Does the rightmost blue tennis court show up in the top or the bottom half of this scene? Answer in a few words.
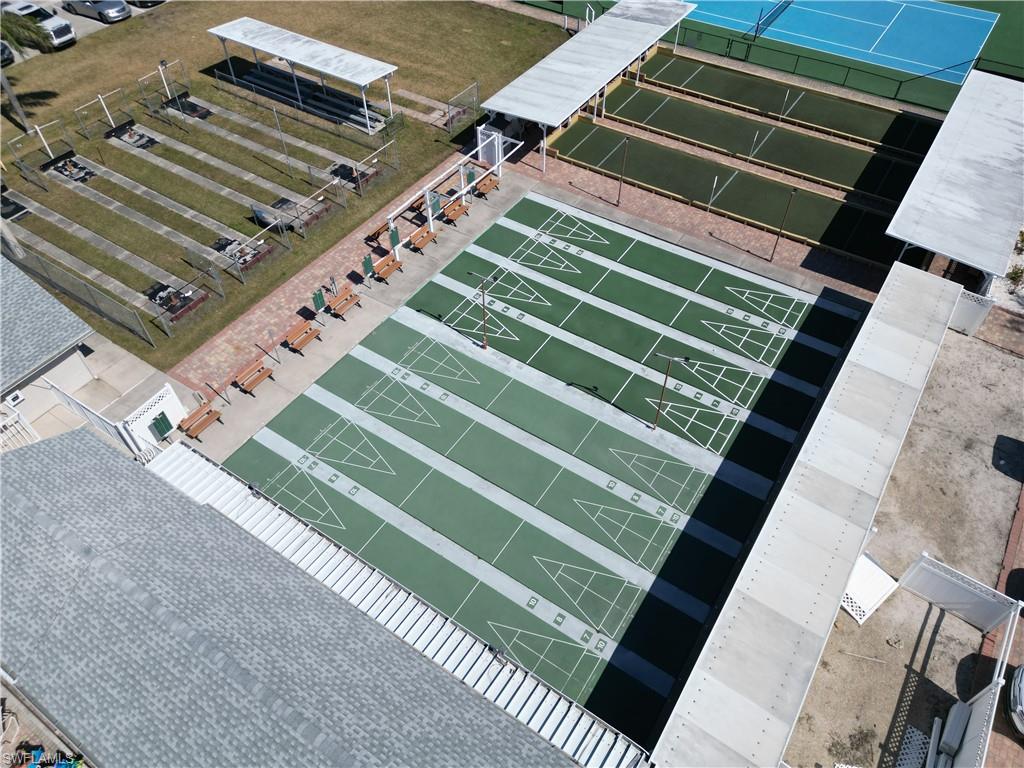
top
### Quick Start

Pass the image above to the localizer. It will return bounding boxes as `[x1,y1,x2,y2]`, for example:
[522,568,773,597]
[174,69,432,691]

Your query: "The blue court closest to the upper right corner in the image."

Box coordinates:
[501,0,1024,113]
